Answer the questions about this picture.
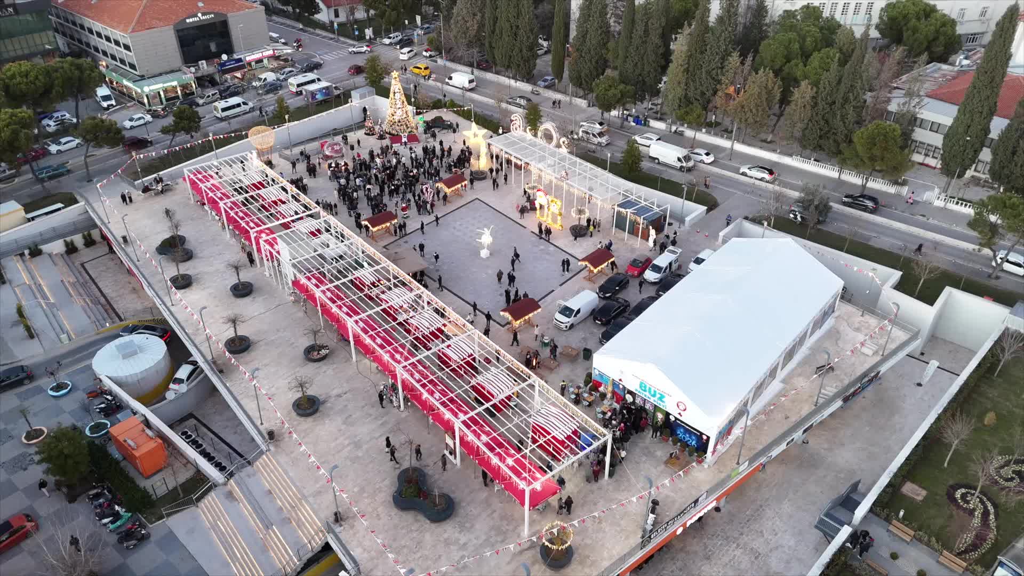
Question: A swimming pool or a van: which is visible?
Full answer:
The one in the frame is a van.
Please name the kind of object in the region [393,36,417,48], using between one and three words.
vehicle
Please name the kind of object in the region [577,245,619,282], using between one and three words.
shed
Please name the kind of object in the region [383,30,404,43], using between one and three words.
vehicle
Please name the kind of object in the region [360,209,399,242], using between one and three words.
shed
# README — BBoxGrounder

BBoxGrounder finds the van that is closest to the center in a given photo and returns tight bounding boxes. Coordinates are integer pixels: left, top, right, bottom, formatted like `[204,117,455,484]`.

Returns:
[553,284,604,330]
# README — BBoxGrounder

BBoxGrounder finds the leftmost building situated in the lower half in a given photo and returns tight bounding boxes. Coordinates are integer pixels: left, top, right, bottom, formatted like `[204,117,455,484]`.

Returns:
[90,335,177,412]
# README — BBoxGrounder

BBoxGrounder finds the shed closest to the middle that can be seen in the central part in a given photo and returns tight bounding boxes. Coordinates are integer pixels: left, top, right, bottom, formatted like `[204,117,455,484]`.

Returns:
[496,292,545,332]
